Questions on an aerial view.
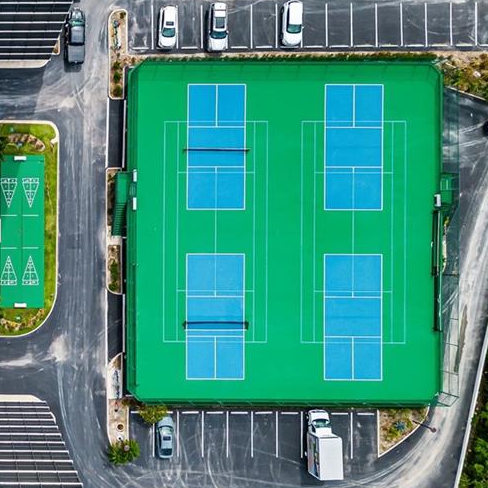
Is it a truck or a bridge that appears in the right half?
truck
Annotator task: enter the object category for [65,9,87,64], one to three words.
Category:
truck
